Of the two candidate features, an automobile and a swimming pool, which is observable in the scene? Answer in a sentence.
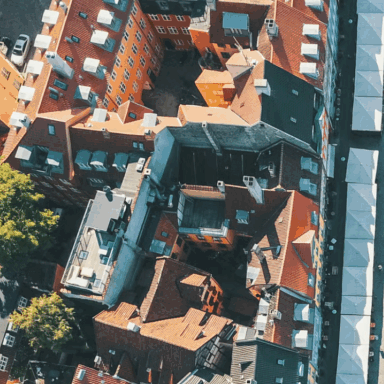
It is an automobile that can be seen here.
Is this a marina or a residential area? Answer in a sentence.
The picture captures a residential area.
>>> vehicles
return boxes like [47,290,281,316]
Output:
[0,32,15,58]
[7,33,33,67]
